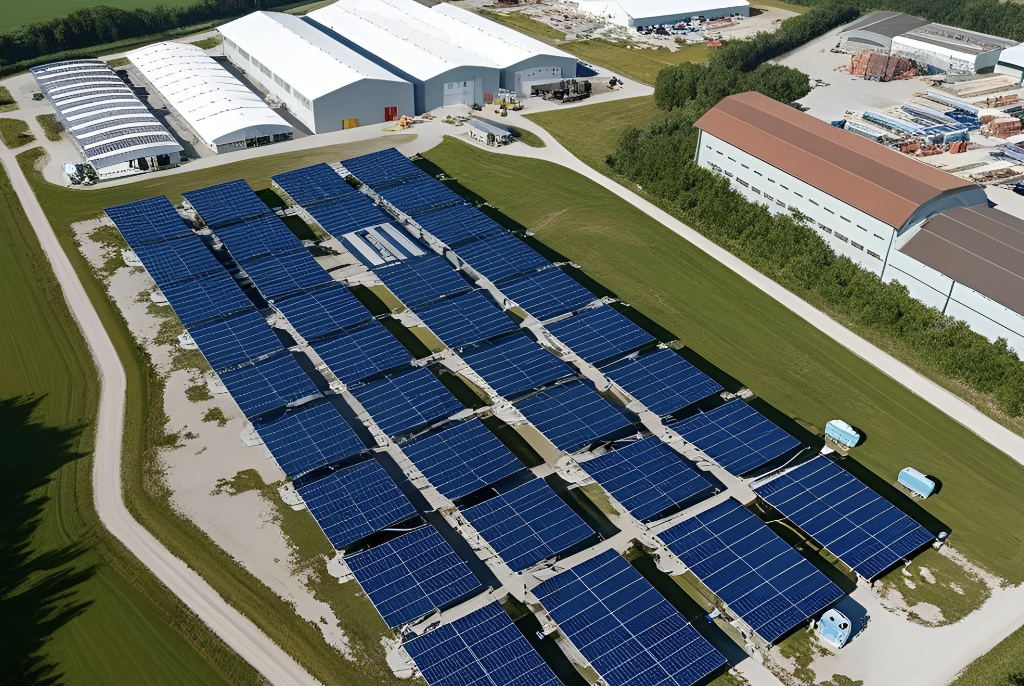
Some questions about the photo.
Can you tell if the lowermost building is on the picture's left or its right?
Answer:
right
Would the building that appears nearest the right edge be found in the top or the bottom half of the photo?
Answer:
top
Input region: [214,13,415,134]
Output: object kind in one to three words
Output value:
building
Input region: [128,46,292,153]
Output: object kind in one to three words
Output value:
shed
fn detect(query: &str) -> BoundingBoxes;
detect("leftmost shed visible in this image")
[19,59,185,178]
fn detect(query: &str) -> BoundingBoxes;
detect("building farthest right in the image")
[996,38,1024,83]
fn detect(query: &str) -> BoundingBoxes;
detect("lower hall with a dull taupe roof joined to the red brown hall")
[881,202,1024,351]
